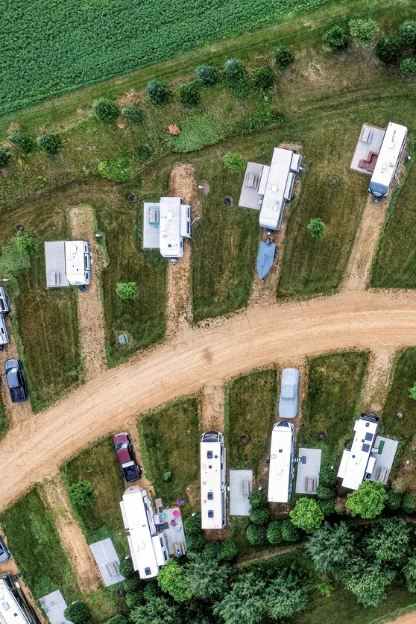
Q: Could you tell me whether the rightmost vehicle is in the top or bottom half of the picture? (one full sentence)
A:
The top half of the photo is where the rightmost vehicle is.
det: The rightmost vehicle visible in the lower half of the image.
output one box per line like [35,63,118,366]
[337,405,380,488]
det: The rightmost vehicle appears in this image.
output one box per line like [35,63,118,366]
[367,122,409,205]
